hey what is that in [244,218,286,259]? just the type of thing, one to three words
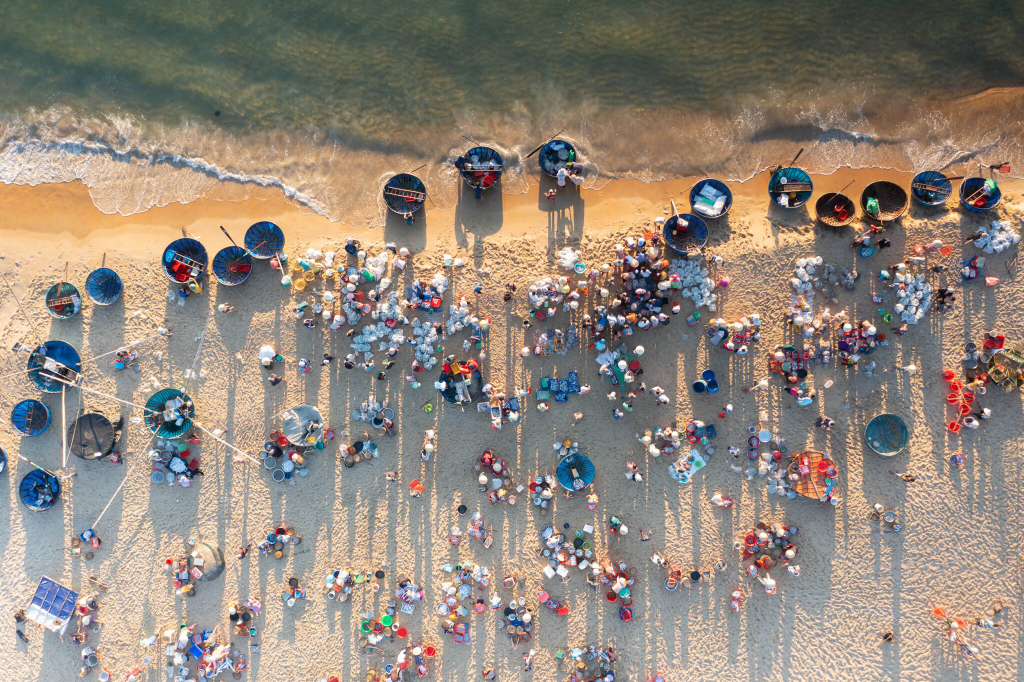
boat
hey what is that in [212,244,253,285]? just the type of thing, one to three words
boat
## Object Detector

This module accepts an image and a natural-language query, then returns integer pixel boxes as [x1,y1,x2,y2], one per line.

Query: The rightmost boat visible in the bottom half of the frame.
[862,410,909,457]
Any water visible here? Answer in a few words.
Yes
